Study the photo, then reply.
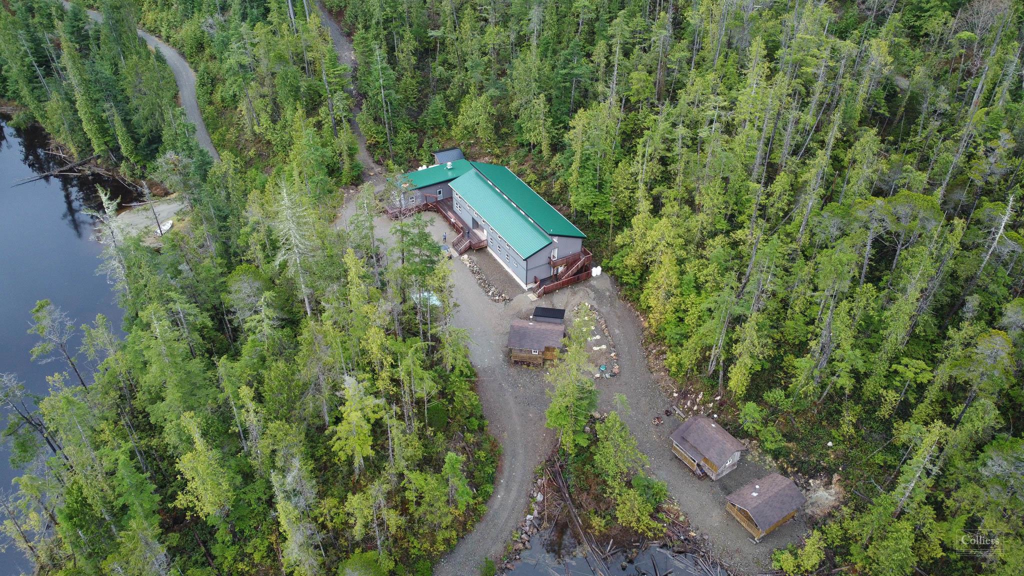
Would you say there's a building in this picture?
Yes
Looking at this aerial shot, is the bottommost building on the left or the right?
right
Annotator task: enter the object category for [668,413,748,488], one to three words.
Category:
building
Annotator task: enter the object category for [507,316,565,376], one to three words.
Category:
building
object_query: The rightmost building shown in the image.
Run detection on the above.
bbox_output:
[724,471,808,555]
